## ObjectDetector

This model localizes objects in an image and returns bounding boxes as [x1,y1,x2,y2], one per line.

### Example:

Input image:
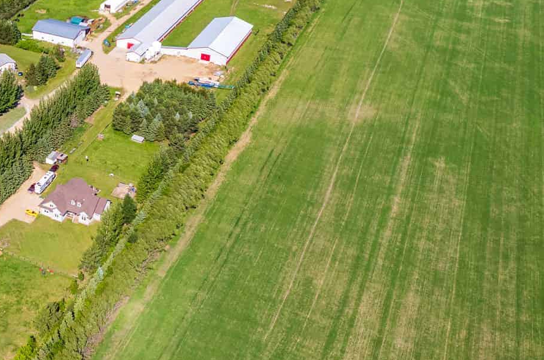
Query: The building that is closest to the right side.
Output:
[185,14,254,66]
